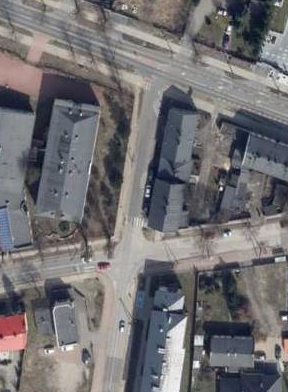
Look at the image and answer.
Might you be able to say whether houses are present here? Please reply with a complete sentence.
Yes, the photo shows a house.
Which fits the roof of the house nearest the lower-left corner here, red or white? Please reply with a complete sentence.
From above, the roof of the house nearest the lower-left corner appears red.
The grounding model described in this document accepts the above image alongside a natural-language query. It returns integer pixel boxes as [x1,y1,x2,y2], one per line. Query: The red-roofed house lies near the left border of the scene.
[0,314,28,352]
